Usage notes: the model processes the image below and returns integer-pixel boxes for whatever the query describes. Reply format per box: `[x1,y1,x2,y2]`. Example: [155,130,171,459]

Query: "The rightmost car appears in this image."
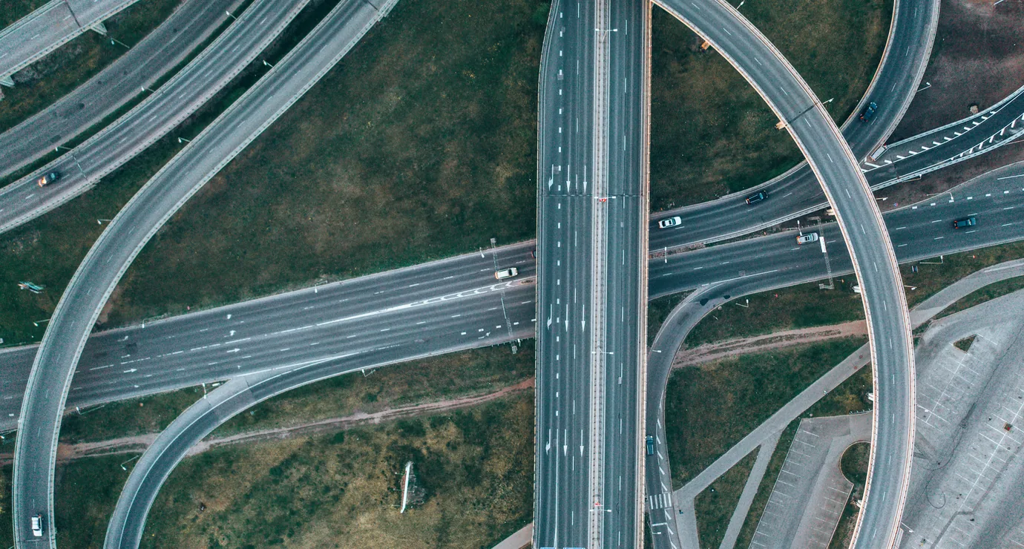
[952,217,976,229]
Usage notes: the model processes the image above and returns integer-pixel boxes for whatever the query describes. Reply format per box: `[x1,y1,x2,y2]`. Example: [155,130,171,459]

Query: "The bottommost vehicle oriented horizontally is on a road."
[494,267,519,279]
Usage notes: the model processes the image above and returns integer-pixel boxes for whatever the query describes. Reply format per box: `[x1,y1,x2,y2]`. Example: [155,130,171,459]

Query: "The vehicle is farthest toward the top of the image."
[859,102,876,123]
